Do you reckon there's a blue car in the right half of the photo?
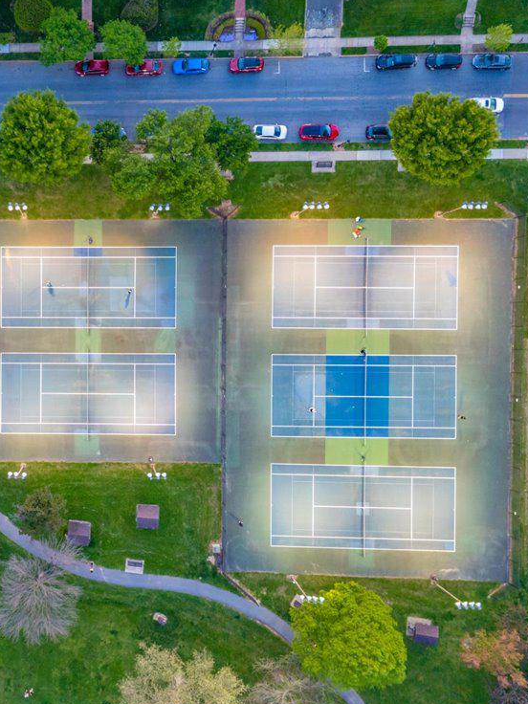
Yes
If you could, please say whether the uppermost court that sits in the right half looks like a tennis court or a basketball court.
tennis court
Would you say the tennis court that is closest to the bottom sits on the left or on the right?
right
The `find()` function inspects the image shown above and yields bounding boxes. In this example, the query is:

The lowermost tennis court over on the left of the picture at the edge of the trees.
[0,342,223,464]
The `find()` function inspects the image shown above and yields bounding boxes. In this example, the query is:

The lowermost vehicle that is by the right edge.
[471,94,507,112]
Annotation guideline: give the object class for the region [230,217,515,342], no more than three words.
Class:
tennis court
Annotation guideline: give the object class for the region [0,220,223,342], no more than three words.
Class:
tennis court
